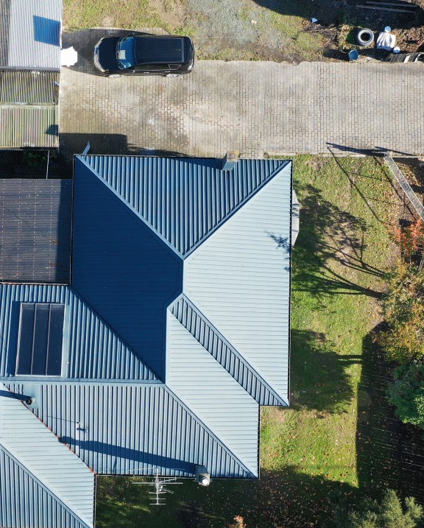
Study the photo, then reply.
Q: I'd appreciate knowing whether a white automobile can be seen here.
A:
No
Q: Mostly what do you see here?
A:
buildings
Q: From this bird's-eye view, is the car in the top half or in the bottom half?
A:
top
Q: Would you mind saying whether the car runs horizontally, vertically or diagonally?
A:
horizontally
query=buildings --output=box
[0,145,297,528]
[0,0,62,155]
